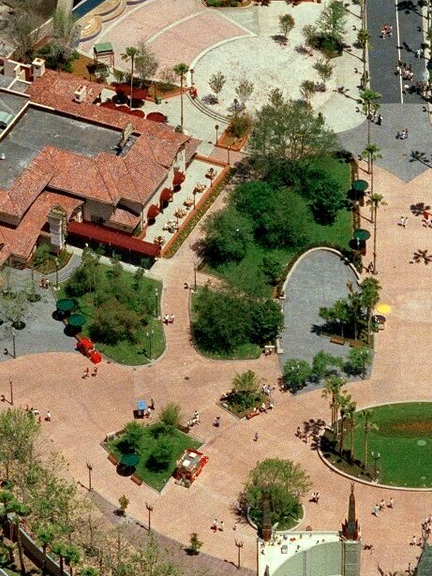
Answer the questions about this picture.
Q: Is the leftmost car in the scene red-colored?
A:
Yes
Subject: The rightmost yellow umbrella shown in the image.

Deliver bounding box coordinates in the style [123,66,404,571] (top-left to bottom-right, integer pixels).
[368,302,389,314]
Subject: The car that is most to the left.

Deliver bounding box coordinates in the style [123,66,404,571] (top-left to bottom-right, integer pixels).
[70,330,110,362]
